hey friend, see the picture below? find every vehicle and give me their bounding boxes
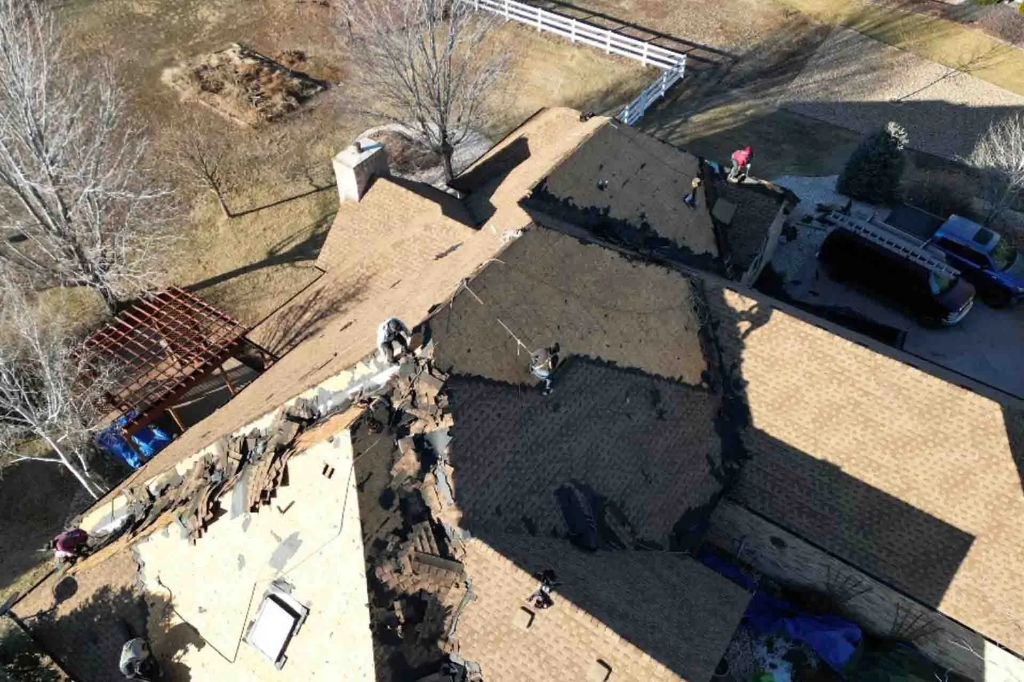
[874,200,1024,300]
[813,202,981,320]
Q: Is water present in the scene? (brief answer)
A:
No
